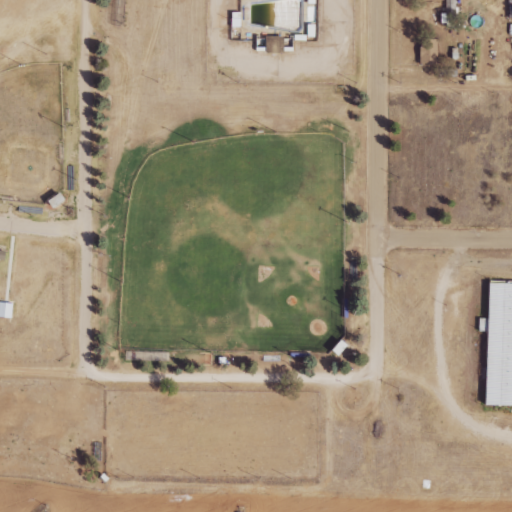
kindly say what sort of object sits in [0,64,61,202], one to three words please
baseball field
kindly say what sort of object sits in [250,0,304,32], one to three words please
swimming pool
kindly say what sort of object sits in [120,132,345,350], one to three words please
baseball field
